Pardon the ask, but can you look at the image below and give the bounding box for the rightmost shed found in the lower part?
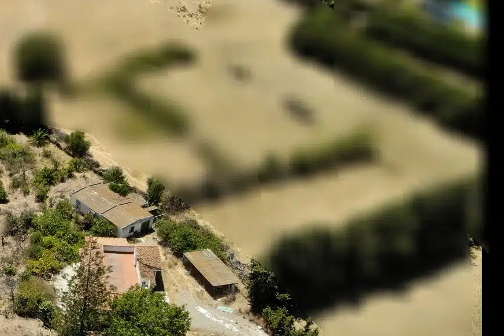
[181,247,241,302]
